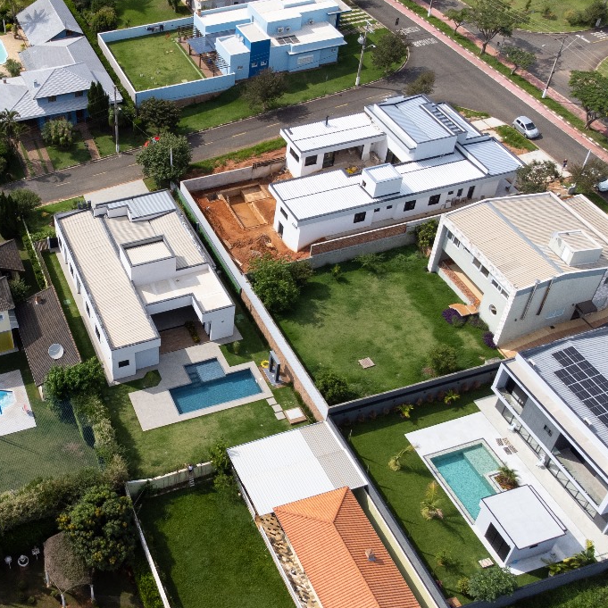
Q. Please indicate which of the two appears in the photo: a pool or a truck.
pool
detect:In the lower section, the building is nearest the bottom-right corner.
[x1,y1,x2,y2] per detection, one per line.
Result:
[474,485,571,567]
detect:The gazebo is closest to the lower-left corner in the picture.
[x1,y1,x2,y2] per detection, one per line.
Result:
[44,537,94,597]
